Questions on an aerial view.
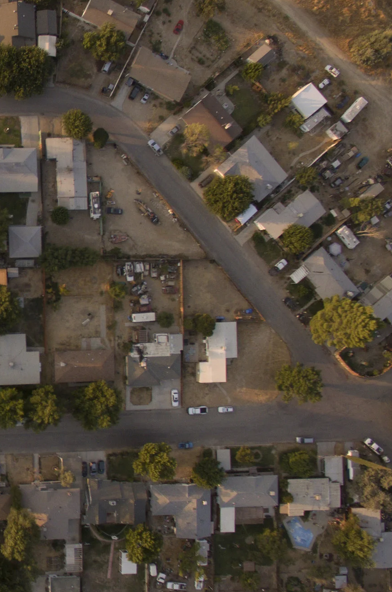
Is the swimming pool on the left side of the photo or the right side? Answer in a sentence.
The swimming pool sits on the right side.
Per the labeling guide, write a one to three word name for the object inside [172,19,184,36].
vehicle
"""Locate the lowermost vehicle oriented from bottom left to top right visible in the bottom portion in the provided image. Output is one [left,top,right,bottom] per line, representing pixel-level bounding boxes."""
[153,569,168,585]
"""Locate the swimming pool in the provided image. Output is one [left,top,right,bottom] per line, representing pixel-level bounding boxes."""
[285,516,316,550]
